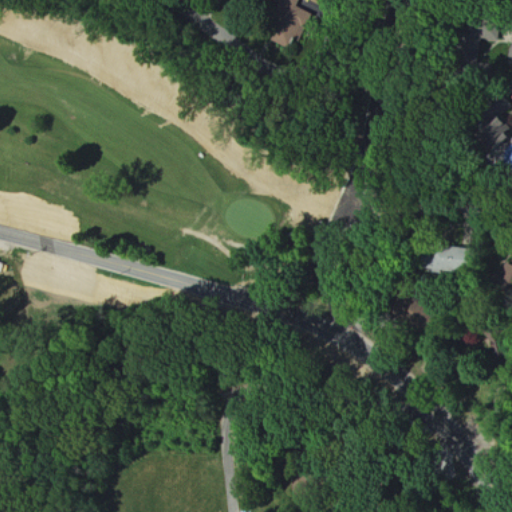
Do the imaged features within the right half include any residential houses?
Yes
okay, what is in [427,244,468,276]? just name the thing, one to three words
house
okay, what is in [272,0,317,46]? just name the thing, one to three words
house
